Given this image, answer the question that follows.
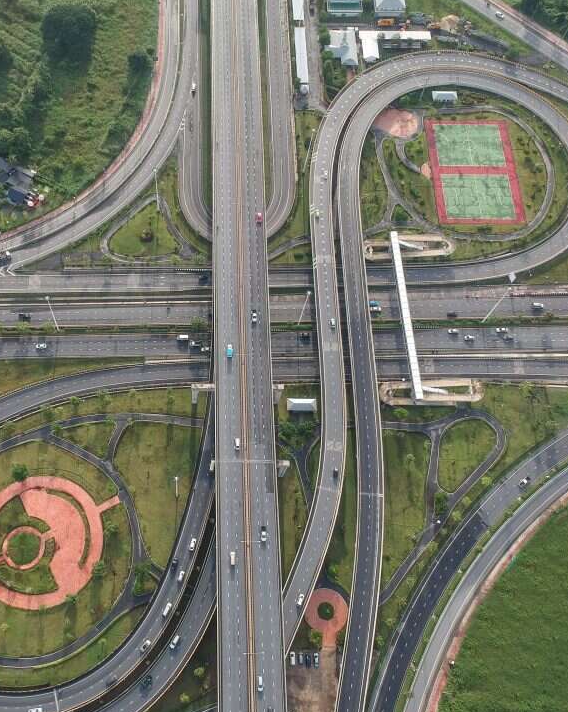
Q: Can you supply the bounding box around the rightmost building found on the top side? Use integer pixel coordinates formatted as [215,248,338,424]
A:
[431,91,457,105]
